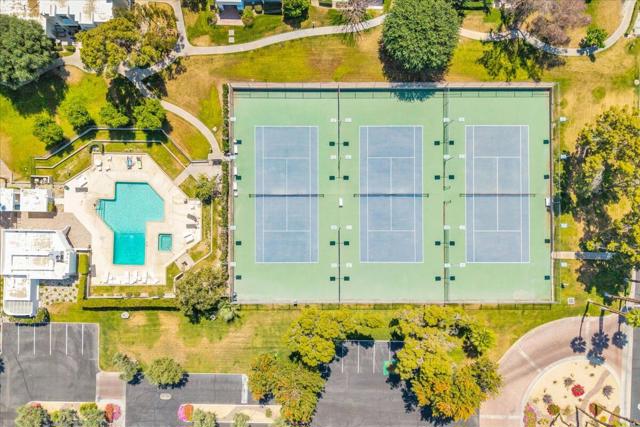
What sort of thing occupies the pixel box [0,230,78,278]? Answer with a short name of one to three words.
building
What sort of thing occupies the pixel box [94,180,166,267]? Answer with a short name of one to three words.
swimming pool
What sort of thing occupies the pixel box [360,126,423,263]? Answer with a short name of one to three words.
tennis court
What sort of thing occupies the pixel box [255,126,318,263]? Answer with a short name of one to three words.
tennis court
